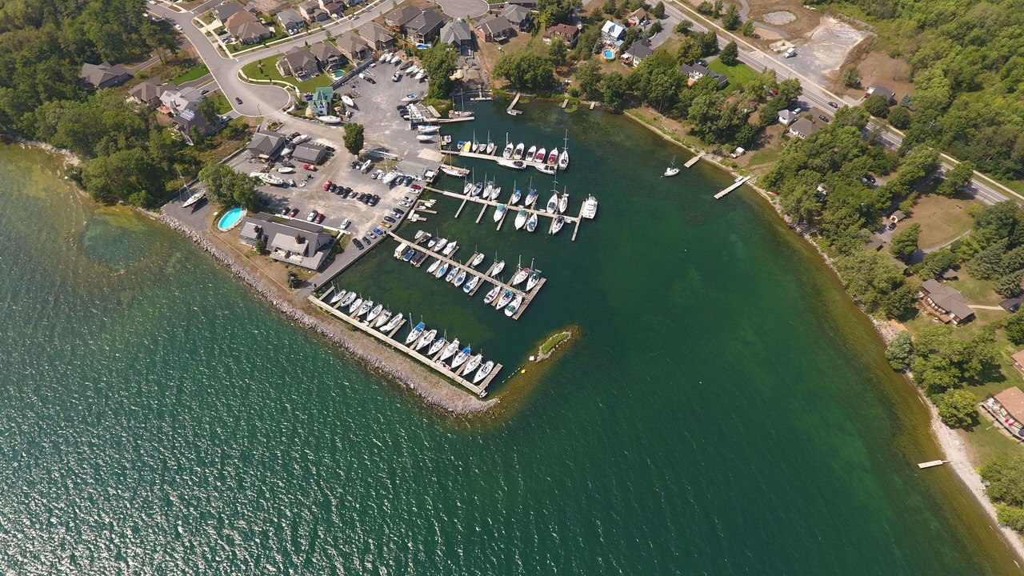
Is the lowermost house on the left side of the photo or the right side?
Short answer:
right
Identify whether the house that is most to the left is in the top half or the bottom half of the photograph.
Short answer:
top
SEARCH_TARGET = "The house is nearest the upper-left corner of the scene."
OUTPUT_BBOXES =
[77,55,132,91]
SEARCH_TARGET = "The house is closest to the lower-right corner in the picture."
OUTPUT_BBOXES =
[982,389,1024,441]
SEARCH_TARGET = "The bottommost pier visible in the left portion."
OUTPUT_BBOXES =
[307,284,505,394]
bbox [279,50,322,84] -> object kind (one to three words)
house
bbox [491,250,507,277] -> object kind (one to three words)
boat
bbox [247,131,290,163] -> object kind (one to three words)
building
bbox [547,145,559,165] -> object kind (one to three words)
boat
